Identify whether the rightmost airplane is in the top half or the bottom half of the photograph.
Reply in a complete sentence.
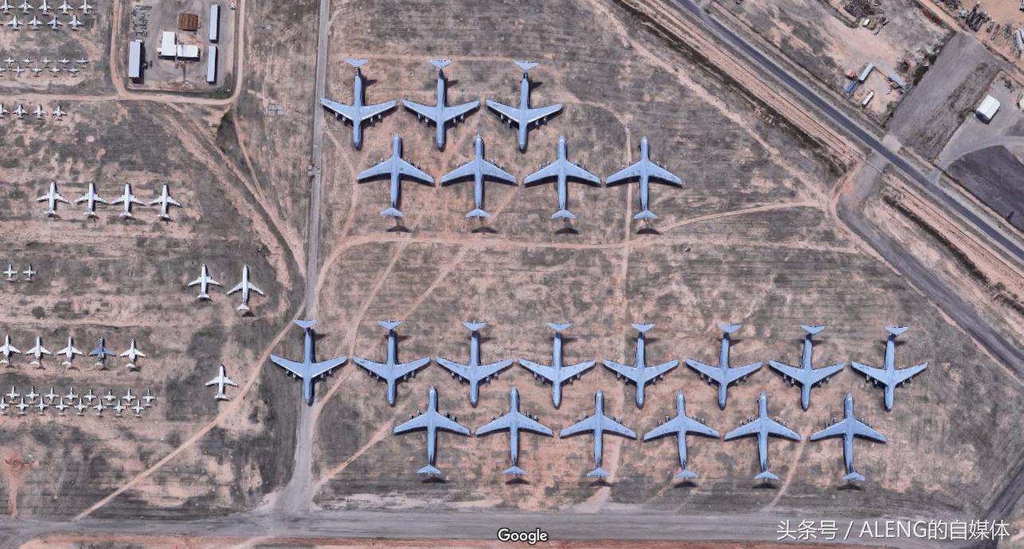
It is in the bottom half that the rightmost airplane appears.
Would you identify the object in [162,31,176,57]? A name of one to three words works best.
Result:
building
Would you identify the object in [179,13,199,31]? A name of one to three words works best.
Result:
shed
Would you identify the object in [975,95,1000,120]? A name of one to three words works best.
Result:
hangar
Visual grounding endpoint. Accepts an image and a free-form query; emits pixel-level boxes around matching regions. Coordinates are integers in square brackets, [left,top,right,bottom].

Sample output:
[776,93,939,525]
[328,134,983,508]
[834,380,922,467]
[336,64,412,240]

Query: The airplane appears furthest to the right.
[852,324,927,411]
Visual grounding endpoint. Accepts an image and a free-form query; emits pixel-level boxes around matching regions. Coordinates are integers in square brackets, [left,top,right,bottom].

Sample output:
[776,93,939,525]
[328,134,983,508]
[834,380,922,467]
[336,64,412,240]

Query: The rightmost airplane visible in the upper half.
[606,135,682,221]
